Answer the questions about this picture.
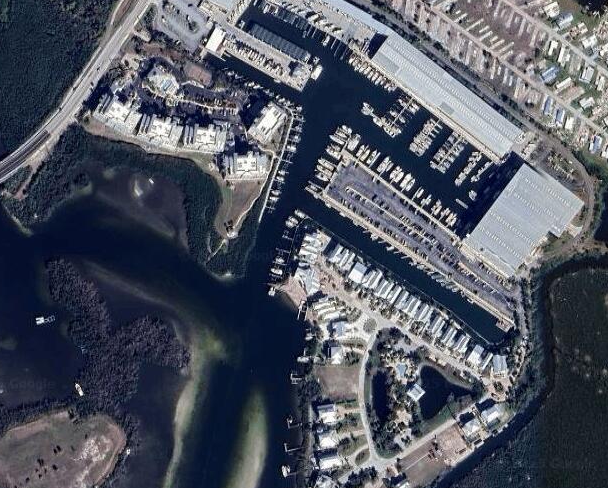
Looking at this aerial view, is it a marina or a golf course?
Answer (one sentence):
This looks like a marina.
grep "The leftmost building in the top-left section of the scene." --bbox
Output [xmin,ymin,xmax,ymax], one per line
[93,100,141,139]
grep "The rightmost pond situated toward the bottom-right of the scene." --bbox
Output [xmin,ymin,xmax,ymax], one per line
[418,365,469,421]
